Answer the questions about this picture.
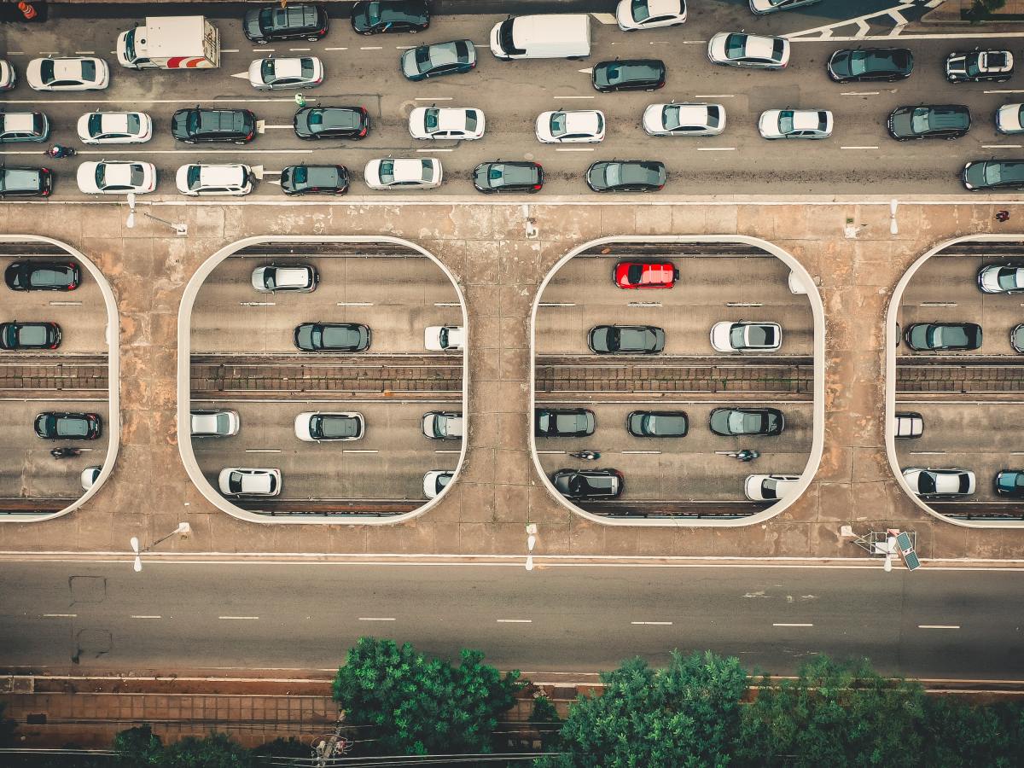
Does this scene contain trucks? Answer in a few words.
Yes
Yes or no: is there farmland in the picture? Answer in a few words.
No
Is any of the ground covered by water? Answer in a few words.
No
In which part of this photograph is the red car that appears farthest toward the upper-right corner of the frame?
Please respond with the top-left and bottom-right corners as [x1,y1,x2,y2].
[614,257,678,292]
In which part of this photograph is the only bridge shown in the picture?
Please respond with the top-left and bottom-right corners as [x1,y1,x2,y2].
[0,204,1024,562]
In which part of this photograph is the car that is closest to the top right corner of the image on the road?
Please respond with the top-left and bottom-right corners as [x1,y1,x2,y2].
[944,45,1015,84]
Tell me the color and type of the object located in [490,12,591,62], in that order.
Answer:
white van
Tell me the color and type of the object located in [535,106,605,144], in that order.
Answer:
white car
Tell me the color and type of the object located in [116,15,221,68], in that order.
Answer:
white truck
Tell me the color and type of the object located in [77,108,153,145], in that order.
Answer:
white car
